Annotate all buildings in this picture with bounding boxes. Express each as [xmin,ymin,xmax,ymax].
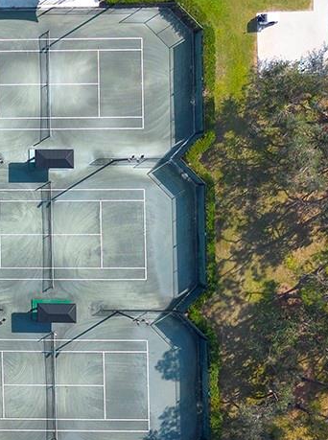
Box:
[30,150,74,168]
[32,301,75,323]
